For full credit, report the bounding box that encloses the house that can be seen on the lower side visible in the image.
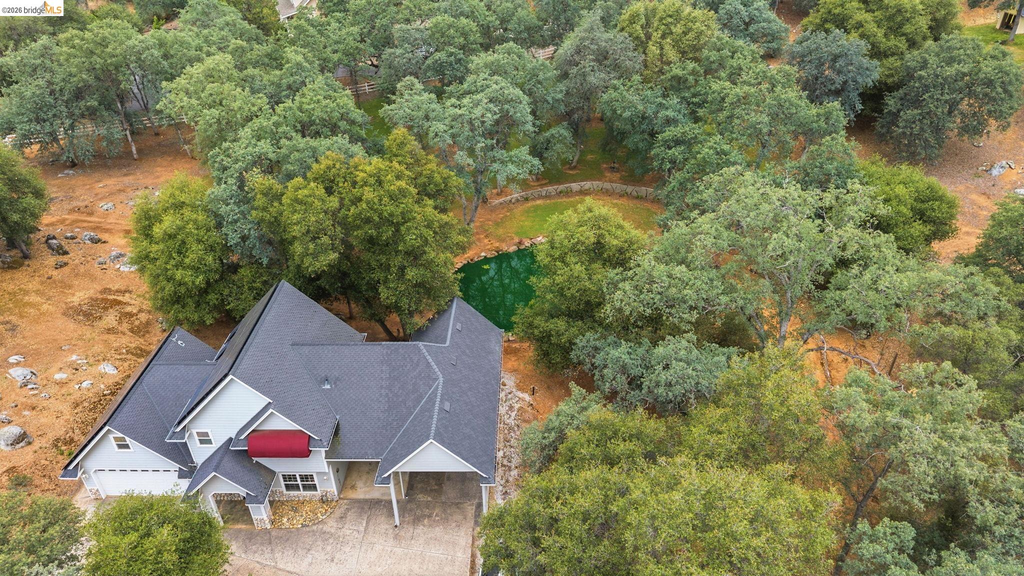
[57,279,506,529]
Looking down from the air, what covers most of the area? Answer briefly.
trees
